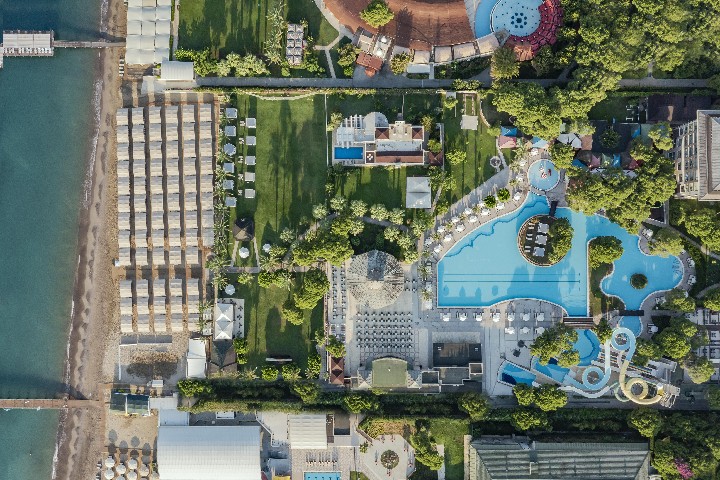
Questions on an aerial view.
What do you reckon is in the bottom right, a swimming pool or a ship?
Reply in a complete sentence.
You can see a swimming pool in the bottom right.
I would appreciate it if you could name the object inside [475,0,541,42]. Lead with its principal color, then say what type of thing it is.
blue swimming pool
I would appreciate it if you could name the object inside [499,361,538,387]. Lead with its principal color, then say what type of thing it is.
blue swimming pool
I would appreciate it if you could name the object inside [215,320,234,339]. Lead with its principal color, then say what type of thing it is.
white tent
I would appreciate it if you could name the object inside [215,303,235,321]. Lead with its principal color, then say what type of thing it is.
white tent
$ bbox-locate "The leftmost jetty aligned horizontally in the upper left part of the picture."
[1,30,127,56]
